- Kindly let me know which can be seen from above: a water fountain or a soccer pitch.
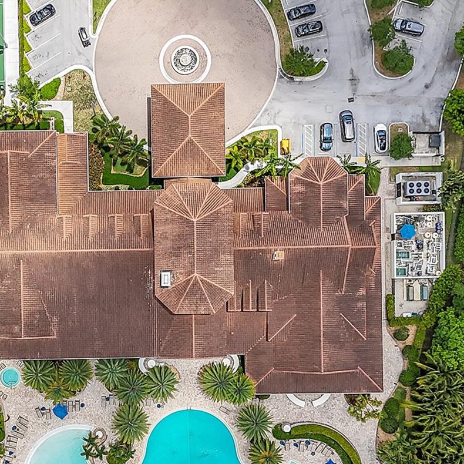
water fountain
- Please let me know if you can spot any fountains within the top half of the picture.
Yes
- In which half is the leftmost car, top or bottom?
top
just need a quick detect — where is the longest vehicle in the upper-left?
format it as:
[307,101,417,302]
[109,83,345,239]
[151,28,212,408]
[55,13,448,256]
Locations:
[27,4,55,26]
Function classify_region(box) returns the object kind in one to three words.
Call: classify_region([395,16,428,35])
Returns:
car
